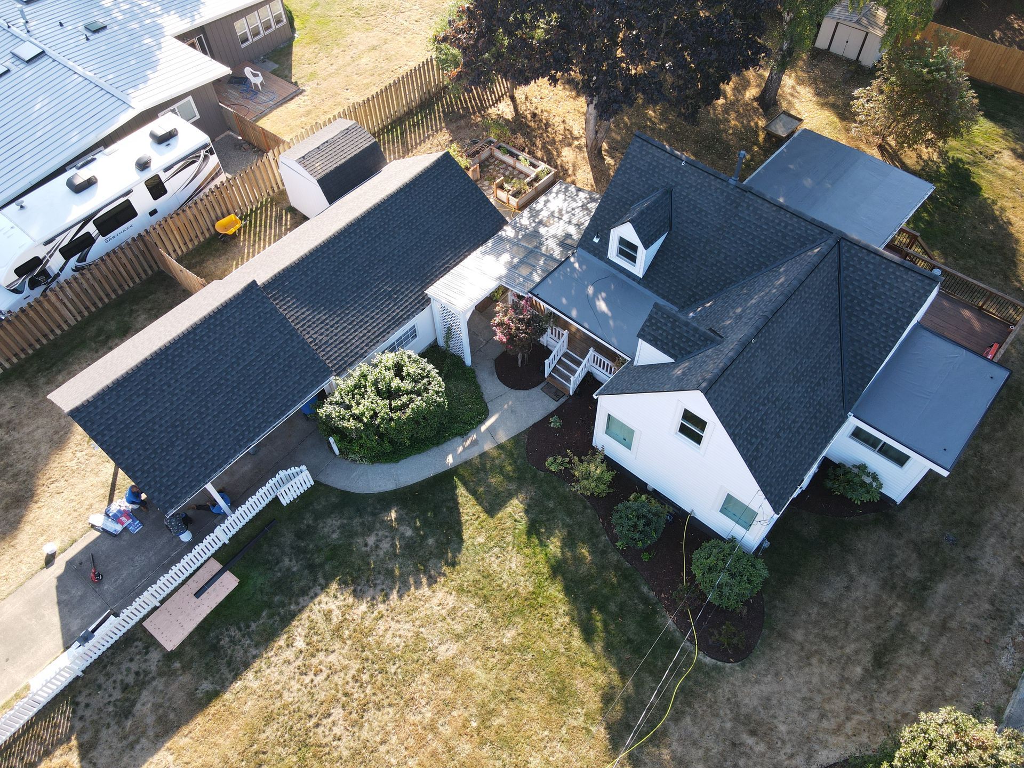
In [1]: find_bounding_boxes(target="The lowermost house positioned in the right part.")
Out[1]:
[527,128,1011,544]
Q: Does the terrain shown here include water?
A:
No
